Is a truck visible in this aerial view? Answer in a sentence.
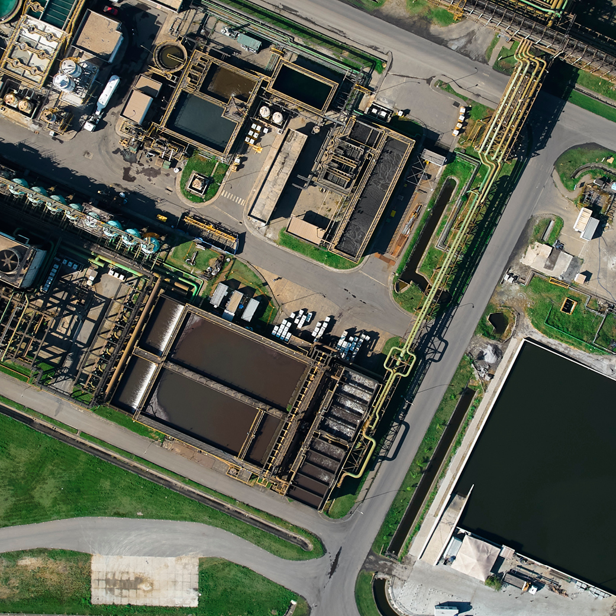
Yes, there's a truck down there.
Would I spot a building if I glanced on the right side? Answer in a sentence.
Yes, there is a building on the right side.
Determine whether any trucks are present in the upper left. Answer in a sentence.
Yes, the scene does show a truck in the upper left.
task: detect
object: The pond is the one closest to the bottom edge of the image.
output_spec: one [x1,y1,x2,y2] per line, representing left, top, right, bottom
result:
[419,339,616,593]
